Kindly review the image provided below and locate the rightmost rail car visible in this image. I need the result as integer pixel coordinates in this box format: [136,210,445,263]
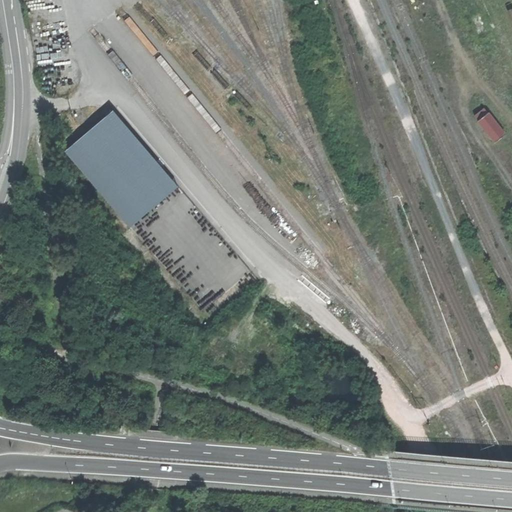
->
[232,90,253,110]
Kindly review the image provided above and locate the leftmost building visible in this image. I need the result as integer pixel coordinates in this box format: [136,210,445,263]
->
[65,110,177,228]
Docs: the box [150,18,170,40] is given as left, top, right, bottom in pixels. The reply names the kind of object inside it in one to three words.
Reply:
rail car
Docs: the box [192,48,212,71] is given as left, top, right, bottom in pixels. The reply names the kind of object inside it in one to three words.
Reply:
rail car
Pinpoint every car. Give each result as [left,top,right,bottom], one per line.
[371,482,382,488]
[160,466,172,472]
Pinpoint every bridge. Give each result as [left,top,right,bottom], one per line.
[388,426,512,512]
